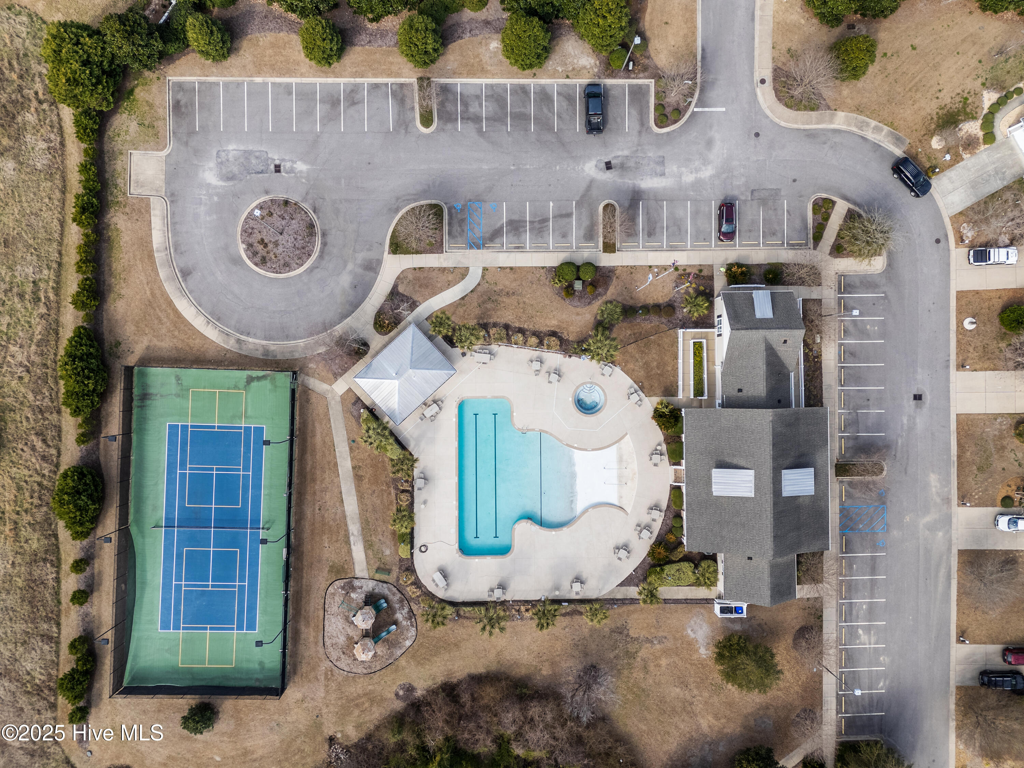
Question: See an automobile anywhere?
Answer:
Yes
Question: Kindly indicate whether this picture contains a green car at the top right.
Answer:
No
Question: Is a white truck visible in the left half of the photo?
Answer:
No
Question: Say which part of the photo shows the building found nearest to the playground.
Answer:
center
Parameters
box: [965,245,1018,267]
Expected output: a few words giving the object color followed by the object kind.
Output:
white truck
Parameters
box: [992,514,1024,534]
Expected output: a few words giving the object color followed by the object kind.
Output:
white car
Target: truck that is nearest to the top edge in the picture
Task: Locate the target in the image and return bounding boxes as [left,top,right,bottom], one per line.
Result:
[583,84,605,139]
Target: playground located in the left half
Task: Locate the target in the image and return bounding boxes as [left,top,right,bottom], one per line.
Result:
[340,595,396,658]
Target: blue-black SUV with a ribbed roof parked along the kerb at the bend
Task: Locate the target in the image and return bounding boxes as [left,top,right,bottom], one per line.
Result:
[890,158,929,199]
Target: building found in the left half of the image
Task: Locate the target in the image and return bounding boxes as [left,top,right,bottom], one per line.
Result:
[353,323,457,426]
